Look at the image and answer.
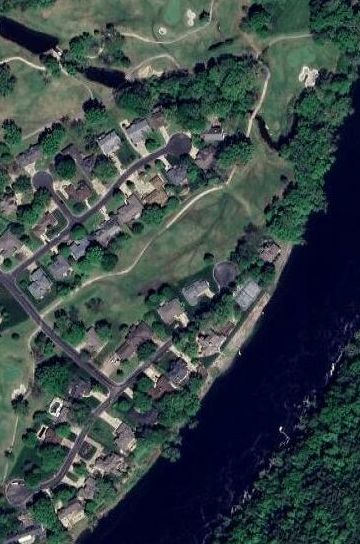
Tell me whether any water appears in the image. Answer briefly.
Yes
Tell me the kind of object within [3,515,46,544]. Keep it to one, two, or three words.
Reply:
house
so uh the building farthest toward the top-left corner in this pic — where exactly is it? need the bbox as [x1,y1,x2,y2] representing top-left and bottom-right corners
[16,143,44,166]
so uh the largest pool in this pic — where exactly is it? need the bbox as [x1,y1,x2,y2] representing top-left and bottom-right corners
[50,398,62,417]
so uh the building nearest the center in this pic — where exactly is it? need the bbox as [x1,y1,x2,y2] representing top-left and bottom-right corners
[180,275,211,305]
